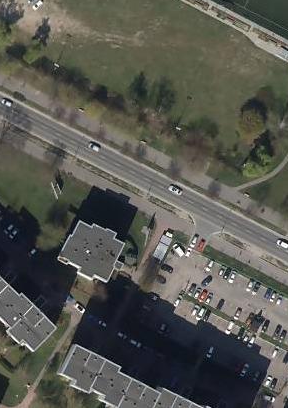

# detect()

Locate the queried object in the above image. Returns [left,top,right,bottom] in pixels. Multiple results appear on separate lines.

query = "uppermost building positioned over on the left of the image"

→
[58,221,125,283]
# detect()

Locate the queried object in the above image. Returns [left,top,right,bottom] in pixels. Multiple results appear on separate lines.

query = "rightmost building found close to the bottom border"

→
[56,345,202,408]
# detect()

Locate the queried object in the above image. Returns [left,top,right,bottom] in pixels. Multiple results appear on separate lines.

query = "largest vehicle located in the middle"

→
[156,232,172,260]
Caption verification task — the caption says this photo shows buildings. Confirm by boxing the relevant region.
[56,345,202,408]
[58,221,125,283]
[0,277,56,353]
